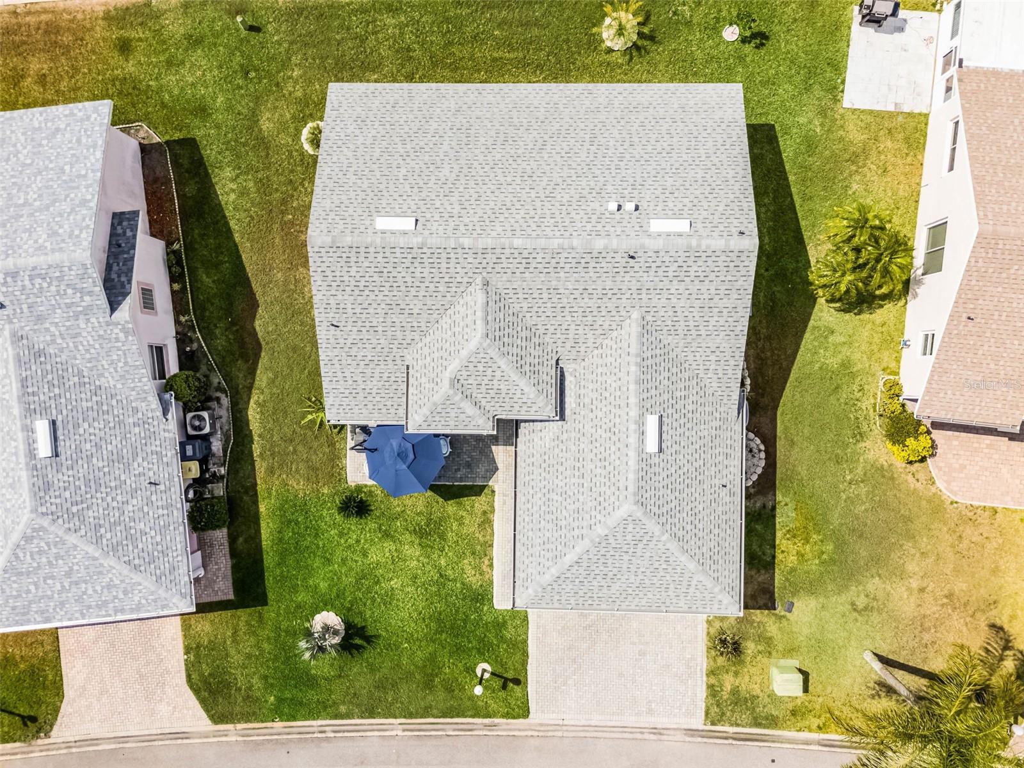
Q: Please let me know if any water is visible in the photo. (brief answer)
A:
No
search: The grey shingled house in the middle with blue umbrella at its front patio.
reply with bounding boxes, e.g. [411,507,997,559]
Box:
[306,80,760,618]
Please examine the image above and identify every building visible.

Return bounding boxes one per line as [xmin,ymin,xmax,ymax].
[306,80,760,618]
[898,0,1024,432]
[0,99,208,633]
